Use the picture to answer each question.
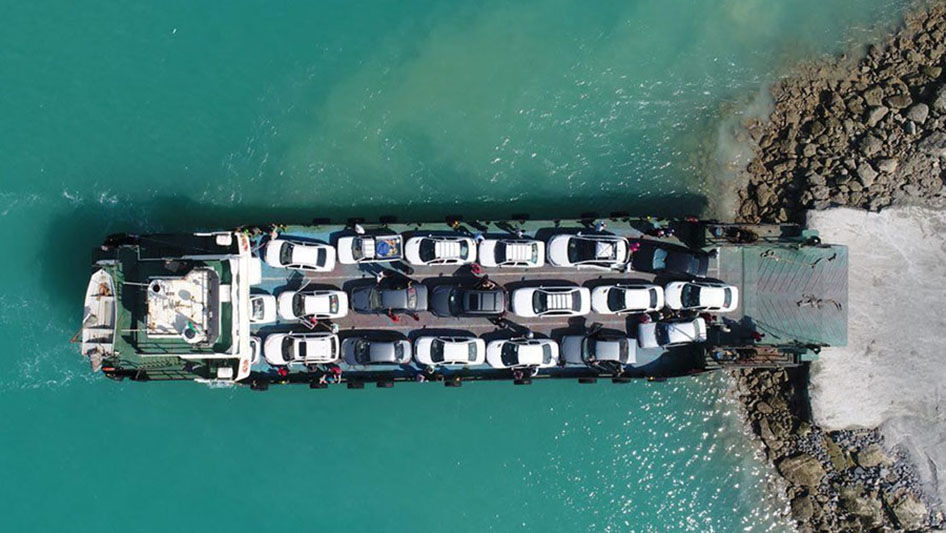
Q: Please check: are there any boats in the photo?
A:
Yes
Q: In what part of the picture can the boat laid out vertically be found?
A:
left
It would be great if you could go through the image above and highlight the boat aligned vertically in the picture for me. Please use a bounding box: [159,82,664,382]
[71,264,115,379]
